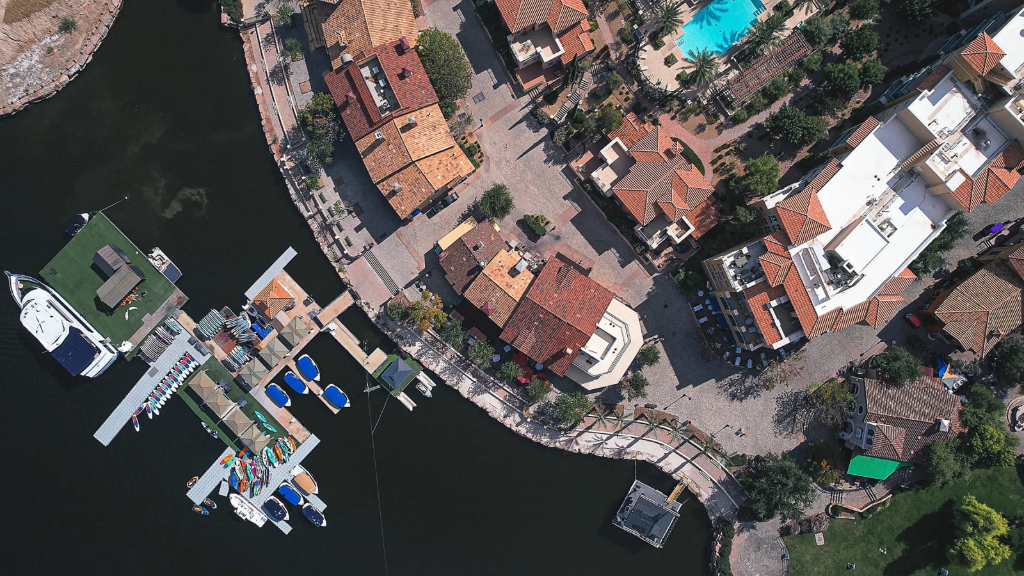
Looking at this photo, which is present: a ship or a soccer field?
ship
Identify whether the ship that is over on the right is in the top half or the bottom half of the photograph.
bottom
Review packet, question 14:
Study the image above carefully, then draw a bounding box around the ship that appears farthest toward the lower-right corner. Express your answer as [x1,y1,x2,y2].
[612,479,683,548]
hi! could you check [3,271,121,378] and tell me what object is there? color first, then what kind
white boat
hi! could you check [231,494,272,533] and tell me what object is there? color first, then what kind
white boat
